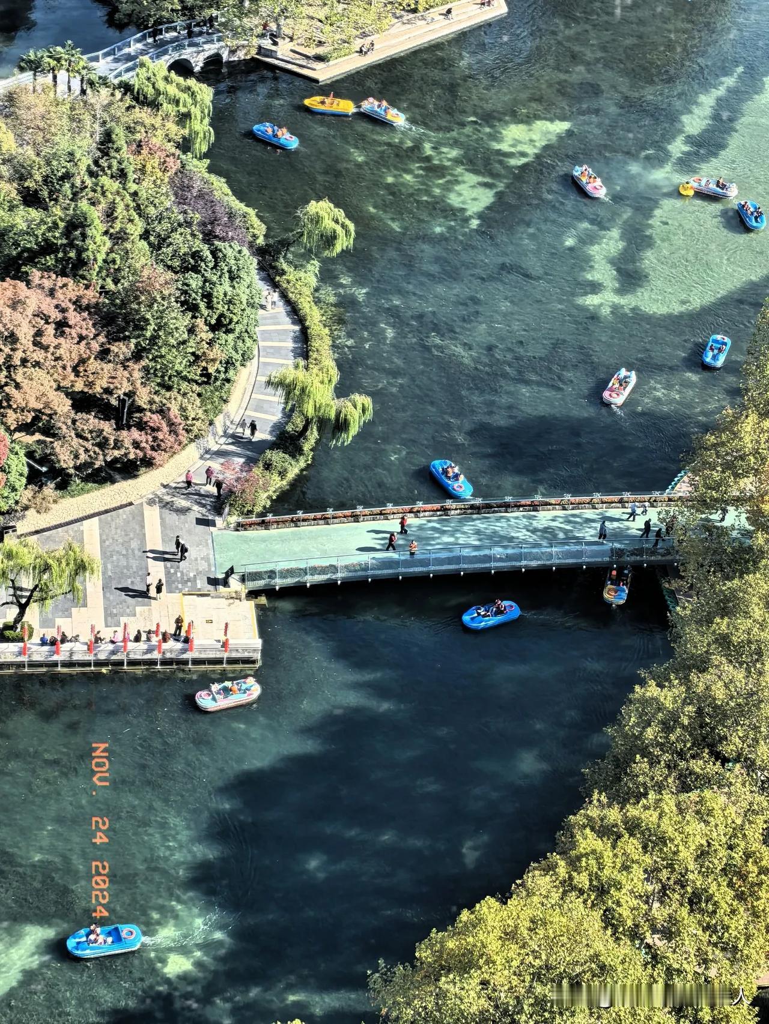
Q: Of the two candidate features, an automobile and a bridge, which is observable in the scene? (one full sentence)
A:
I can see a bridge in this picture.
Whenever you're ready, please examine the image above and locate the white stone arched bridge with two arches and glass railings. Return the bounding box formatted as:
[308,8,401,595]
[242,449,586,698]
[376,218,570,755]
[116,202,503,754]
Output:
[82,15,270,79]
